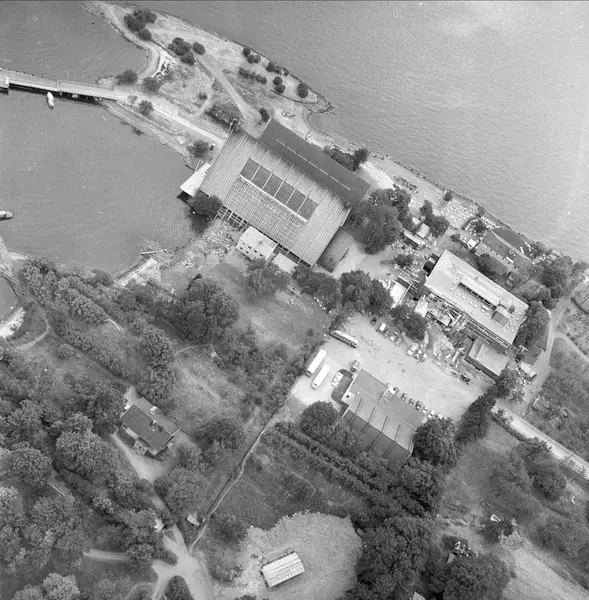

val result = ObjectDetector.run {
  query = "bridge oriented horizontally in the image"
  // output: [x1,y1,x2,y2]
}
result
[0,68,106,102]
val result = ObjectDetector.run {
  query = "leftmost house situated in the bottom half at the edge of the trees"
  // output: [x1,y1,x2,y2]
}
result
[121,397,179,456]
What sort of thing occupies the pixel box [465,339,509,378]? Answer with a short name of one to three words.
building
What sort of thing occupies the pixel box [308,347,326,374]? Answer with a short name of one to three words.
vehicle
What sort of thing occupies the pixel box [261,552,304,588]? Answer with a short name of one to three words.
barn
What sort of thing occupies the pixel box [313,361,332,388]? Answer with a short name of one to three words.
vehicle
